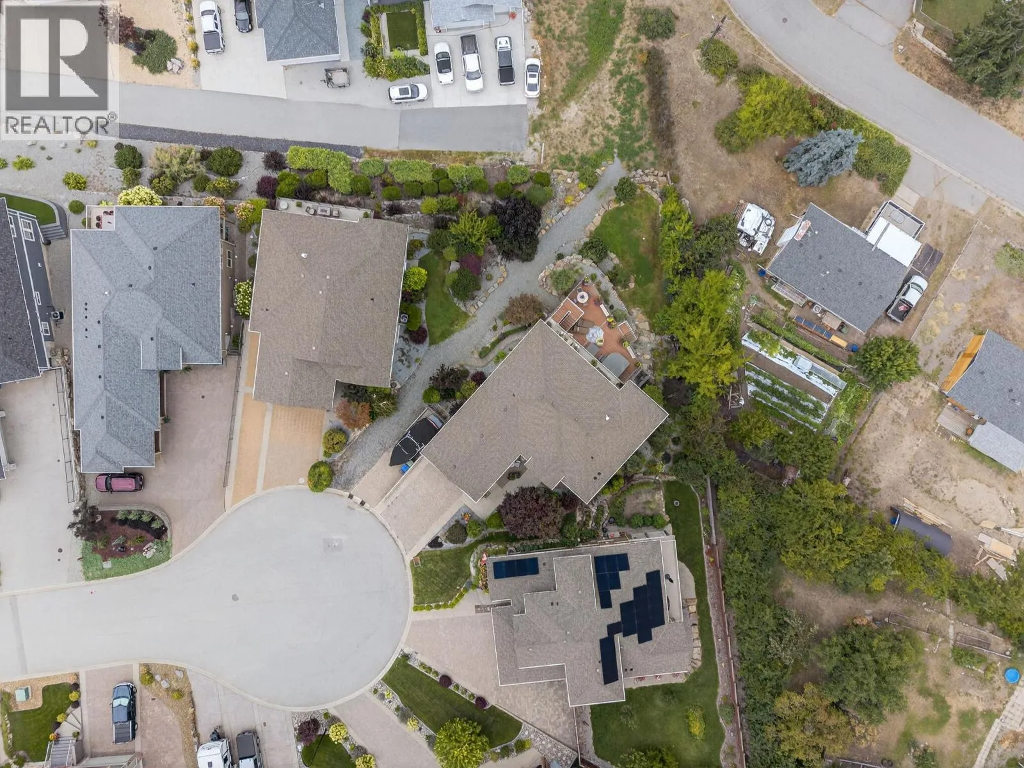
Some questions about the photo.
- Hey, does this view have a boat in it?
Yes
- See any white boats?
No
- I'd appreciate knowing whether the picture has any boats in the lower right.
No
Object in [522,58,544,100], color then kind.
white car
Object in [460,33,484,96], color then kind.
white truck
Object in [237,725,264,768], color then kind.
gray truck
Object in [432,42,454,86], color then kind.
white car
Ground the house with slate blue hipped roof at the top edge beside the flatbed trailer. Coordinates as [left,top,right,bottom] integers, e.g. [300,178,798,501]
[259,0,343,73]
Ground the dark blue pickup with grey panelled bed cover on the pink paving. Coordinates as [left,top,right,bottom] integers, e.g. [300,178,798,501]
[109,679,140,744]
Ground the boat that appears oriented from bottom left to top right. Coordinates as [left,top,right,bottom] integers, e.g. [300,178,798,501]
[394,412,444,468]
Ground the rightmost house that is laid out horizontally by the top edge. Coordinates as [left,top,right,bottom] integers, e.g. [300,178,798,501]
[430,0,524,39]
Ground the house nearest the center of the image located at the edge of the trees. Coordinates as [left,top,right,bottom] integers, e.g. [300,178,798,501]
[420,319,669,505]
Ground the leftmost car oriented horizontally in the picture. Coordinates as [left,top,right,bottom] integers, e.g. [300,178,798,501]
[98,472,147,495]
